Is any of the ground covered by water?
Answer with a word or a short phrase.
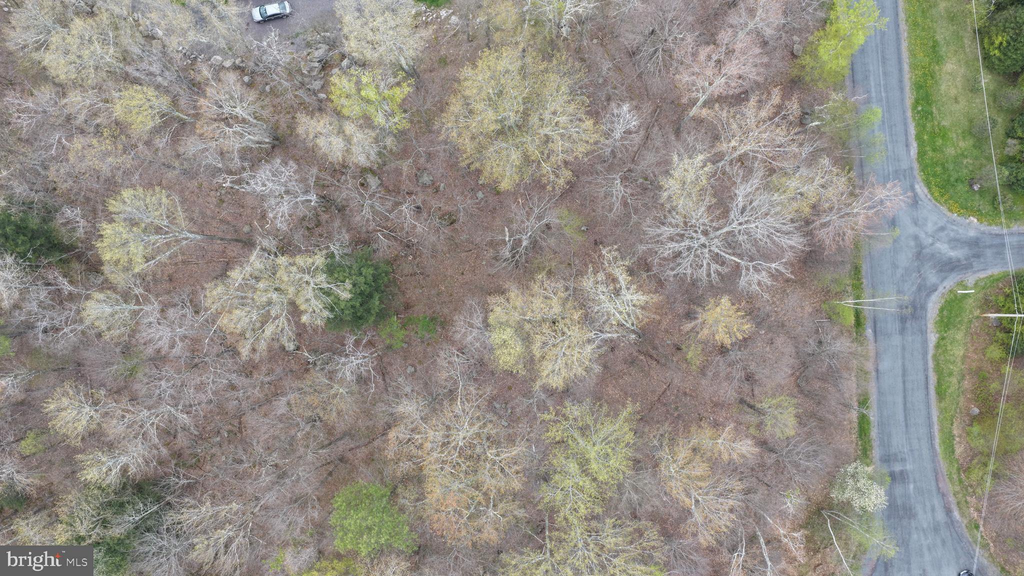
No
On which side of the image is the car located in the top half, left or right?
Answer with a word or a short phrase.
left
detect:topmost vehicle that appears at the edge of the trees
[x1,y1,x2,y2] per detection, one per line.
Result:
[251,1,292,24]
